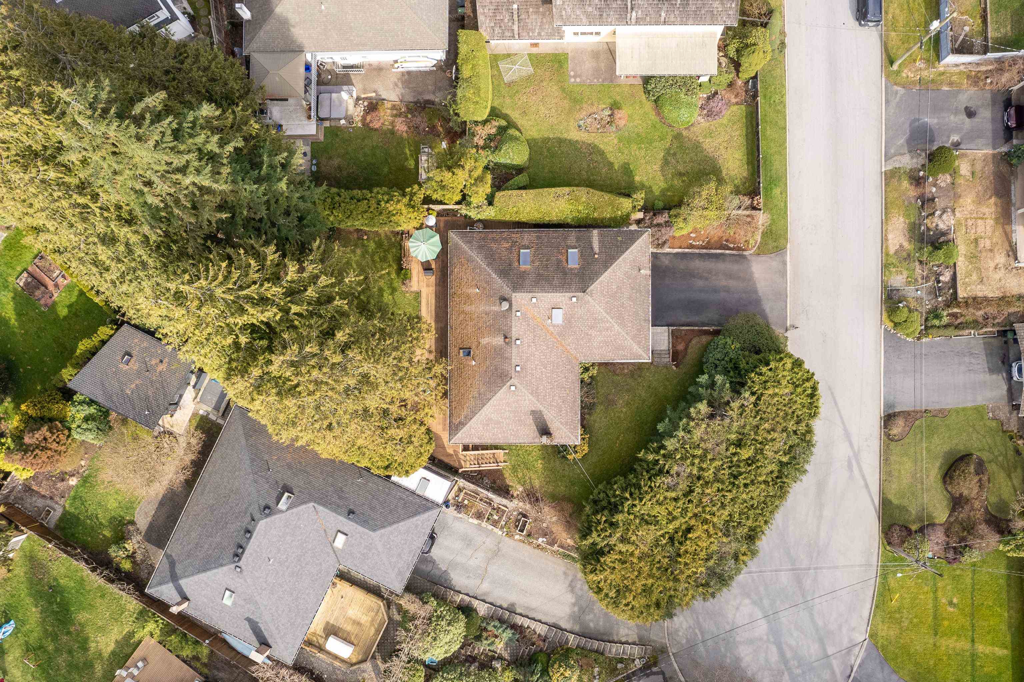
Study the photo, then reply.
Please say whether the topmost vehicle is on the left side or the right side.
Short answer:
right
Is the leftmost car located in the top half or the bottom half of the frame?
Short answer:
bottom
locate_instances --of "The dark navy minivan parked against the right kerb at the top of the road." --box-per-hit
[856,0,890,26]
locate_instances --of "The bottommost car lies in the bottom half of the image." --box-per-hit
[421,532,443,558]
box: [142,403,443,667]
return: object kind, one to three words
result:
house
